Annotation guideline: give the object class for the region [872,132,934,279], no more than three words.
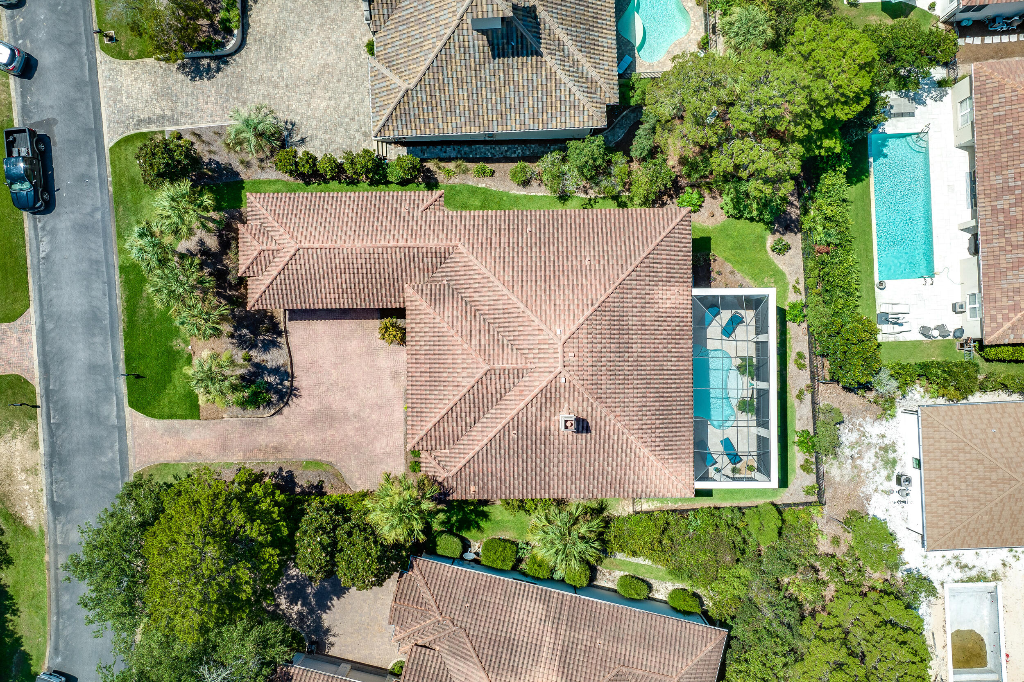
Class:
swimming pool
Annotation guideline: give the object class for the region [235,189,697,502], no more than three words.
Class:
house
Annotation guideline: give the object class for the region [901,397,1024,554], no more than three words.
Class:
house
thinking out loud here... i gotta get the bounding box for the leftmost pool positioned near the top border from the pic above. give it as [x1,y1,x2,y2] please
[619,0,691,60]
